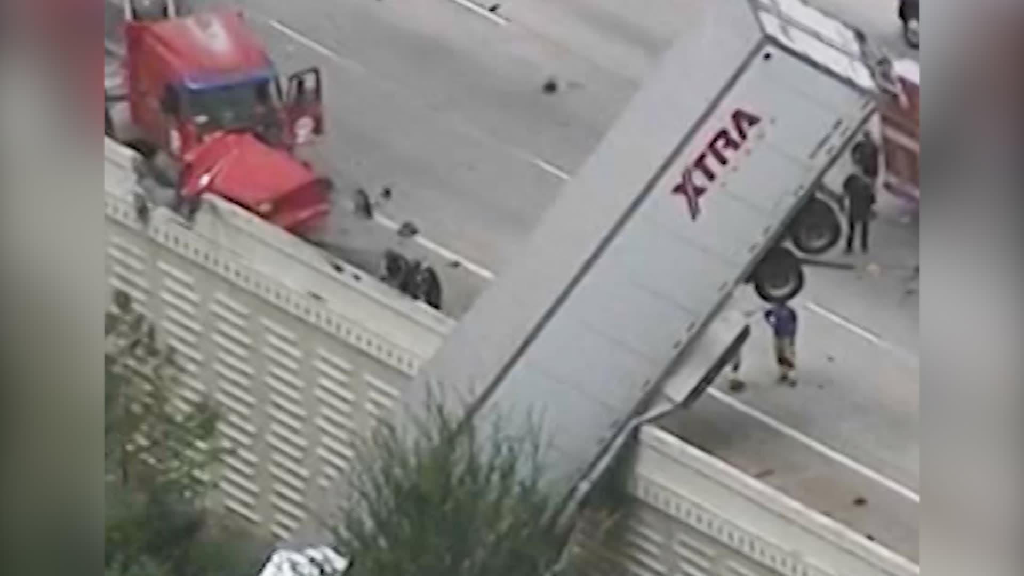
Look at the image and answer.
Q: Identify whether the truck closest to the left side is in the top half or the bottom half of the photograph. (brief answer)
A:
top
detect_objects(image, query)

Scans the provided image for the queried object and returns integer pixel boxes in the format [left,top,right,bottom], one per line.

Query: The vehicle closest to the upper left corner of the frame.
[92,0,338,256]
